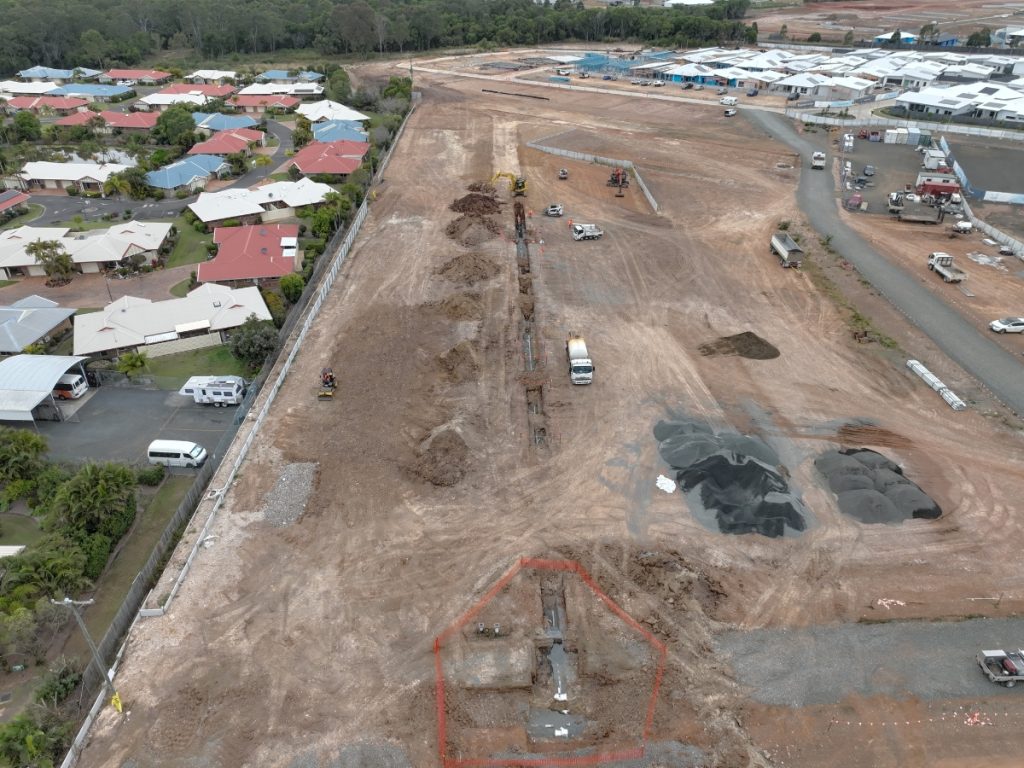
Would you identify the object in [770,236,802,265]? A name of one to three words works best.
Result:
trailer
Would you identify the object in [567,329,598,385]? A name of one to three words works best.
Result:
truck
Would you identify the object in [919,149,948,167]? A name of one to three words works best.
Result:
shed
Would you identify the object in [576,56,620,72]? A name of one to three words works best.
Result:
house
